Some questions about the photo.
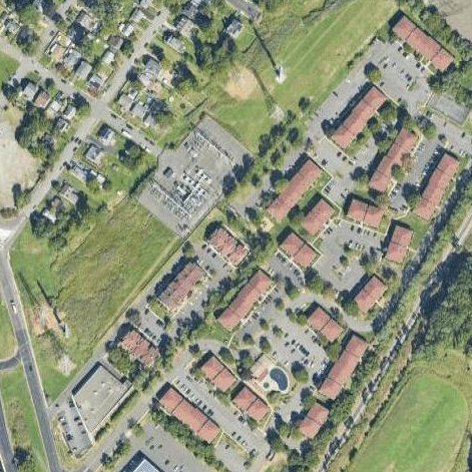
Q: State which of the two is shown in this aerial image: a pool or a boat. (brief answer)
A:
pool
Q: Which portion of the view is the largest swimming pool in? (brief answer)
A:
bottom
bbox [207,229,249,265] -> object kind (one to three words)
building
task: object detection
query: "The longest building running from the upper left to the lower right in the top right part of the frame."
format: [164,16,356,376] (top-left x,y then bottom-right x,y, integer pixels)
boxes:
[392,15,454,71]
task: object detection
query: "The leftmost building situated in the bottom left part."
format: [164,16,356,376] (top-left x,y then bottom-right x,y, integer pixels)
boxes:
[72,365,133,441]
